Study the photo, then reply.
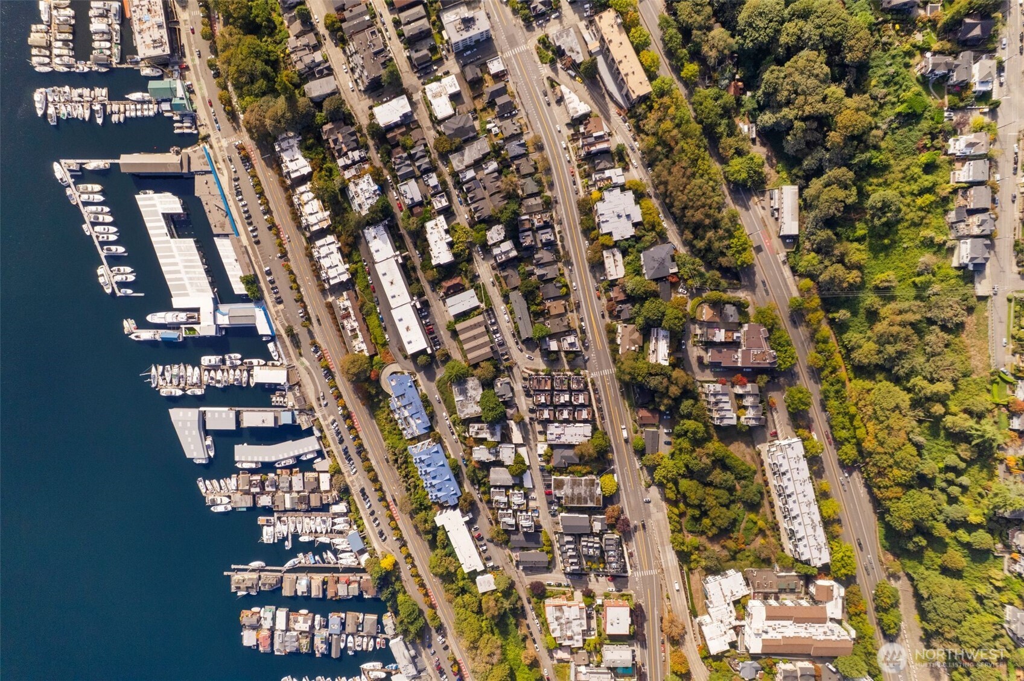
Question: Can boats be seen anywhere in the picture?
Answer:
Yes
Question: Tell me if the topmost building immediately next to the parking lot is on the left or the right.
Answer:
left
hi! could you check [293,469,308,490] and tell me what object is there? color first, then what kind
white boat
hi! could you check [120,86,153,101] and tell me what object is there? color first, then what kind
white boat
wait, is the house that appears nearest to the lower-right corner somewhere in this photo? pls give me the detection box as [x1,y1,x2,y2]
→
[994,602,1024,646]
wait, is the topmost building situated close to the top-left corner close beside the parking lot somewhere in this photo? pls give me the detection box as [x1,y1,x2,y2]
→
[131,0,178,65]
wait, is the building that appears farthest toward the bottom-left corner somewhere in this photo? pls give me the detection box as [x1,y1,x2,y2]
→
[171,407,212,461]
